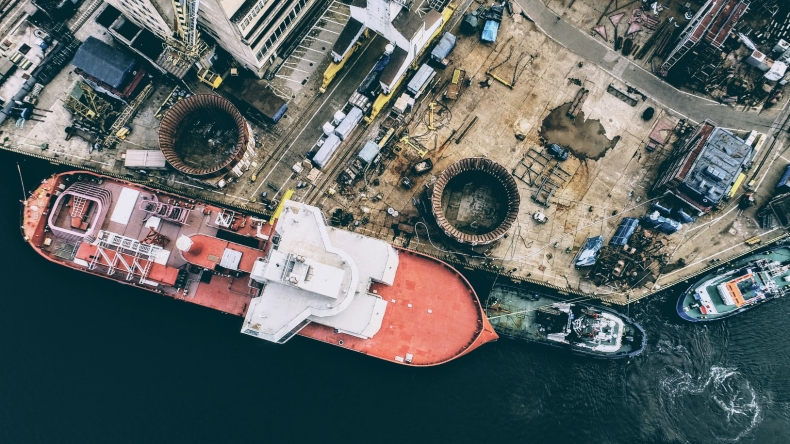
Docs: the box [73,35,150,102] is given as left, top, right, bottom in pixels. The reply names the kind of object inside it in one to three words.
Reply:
building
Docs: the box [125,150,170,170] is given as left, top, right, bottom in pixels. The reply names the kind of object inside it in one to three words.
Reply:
building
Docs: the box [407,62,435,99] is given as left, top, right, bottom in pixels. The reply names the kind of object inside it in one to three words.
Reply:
shipping container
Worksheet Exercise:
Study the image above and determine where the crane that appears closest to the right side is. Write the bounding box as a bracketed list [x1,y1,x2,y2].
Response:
[319,0,461,127]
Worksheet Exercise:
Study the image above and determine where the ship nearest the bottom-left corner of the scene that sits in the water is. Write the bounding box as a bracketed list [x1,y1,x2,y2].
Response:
[16,163,497,367]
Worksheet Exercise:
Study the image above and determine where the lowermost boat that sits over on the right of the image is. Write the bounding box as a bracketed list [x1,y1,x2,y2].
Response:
[479,281,647,361]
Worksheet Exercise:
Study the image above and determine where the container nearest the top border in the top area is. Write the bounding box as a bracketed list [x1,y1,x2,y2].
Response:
[430,32,457,66]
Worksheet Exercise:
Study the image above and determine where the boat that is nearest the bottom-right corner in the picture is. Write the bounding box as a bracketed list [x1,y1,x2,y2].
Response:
[673,238,790,323]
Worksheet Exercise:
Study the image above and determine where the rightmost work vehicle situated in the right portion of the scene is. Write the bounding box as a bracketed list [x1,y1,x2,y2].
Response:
[741,190,760,216]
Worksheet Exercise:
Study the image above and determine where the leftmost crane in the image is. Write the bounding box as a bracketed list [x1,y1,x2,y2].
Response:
[62,78,158,137]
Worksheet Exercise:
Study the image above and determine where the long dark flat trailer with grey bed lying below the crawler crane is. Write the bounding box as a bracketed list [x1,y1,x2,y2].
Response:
[64,119,100,146]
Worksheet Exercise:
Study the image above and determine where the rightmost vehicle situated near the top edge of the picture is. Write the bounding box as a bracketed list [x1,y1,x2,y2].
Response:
[481,0,506,41]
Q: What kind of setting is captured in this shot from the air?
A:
port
